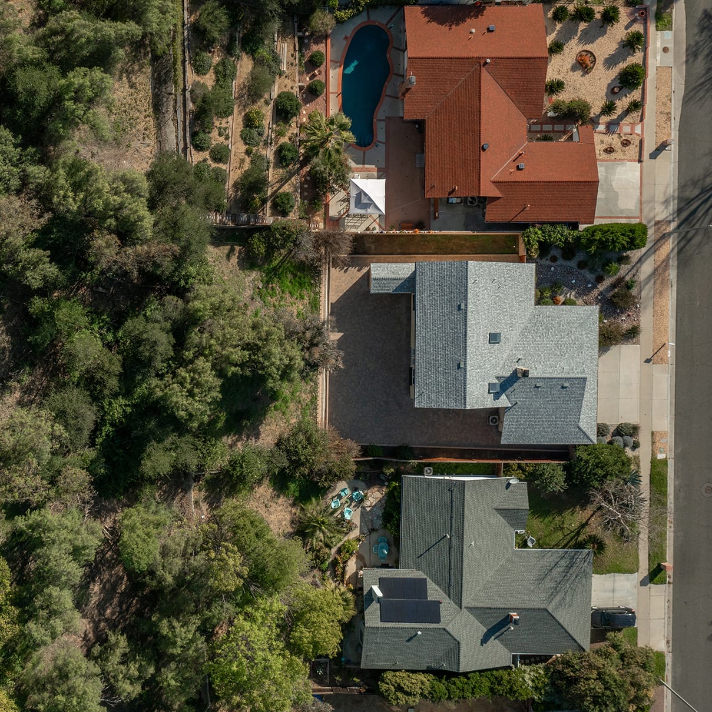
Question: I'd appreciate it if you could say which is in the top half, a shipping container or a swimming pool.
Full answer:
The one visible in the top half is a swimming pool.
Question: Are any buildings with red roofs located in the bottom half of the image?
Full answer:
No, looking in the bottom half of the image, there is no building with a red roof.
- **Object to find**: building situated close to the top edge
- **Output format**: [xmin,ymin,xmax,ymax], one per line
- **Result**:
[400,3,603,223]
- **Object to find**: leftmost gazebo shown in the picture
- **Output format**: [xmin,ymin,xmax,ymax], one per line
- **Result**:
[345,179,385,217]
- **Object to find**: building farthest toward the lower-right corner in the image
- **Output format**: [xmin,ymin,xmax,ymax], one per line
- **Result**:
[359,474,595,680]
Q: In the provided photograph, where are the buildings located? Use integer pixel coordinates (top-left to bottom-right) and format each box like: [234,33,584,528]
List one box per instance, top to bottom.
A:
[400,3,603,223]
[366,260,599,445]
[359,474,595,680]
